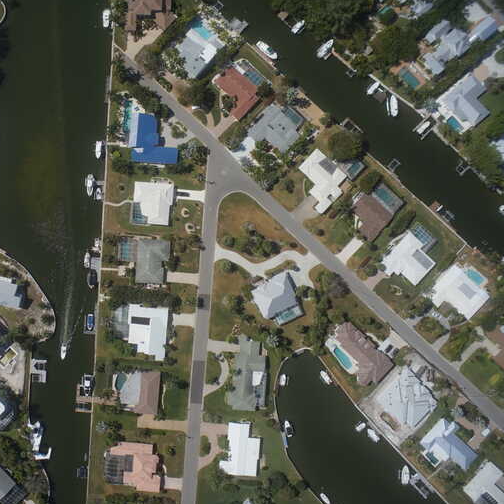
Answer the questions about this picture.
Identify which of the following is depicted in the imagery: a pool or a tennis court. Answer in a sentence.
The image shows a pool.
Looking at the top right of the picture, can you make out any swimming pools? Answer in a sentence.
Yes, I can see a swimming pool at the top right of the picture.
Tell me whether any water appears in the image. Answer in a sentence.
Yes, there is water in the image.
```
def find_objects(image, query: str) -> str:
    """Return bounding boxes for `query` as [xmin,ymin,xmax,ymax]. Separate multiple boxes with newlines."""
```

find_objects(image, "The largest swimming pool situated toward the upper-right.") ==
[434,71,476,133]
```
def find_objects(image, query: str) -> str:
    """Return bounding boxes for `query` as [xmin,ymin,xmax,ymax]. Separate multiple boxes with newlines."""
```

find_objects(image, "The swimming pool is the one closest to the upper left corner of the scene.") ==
[119,95,144,144]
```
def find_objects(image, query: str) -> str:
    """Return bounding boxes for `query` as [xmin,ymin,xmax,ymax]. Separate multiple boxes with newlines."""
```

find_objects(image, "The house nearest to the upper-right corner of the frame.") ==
[470,16,496,43]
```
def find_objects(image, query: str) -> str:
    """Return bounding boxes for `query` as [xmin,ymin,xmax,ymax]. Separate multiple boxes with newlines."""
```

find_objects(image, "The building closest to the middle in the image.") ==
[252,271,304,326]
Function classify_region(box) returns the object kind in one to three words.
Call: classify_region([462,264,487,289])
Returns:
swimming pool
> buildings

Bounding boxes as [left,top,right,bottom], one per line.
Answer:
[0,398,15,426]
[252,271,304,326]
[176,29,215,79]
[431,263,489,319]
[0,277,24,308]
[219,422,262,476]
[121,371,160,415]
[128,110,177,163]
[381,223,435,286]
[118,239,170,284]
[0,467,26,504]
[444,74,491,128]
[422,16,472,76]
[105,442,159,492]
[125,0,176,32]
[486,325,504,369]
[131,181,174,226]
[298,148,364,214]
[334,319,397,390]
[113,304,167,360]
[419,418,477,470]
[353,184,404,241]
[247,105,305,152]
[395,0,433,16]
[226,335,266,411]
[216,58,270,120]
[462,461,504,504]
